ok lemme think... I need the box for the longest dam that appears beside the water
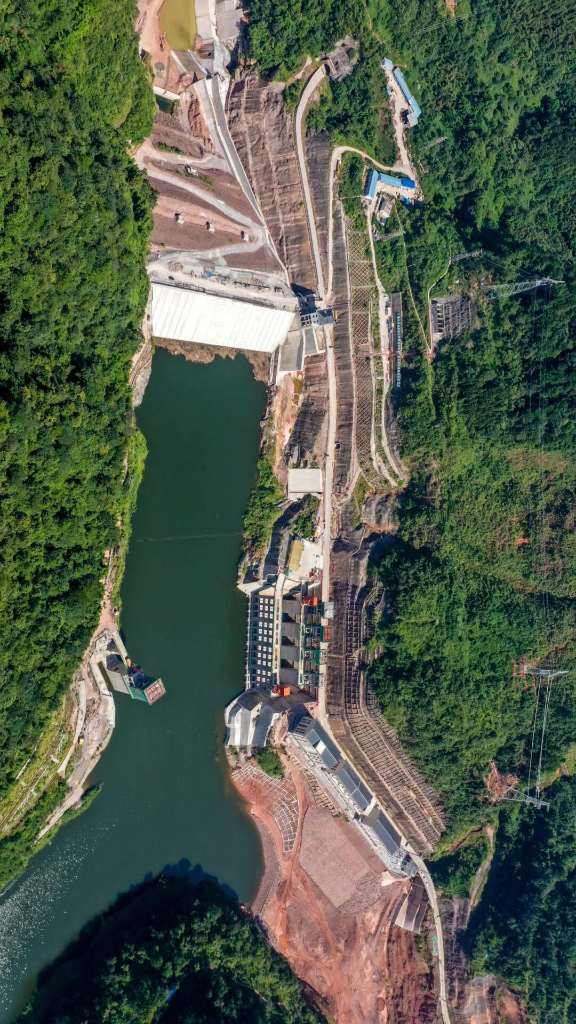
[132,113,298,352]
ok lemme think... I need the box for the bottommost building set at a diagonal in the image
[290,715,401,859]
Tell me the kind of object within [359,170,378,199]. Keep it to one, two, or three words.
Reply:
building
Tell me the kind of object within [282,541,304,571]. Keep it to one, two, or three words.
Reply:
building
